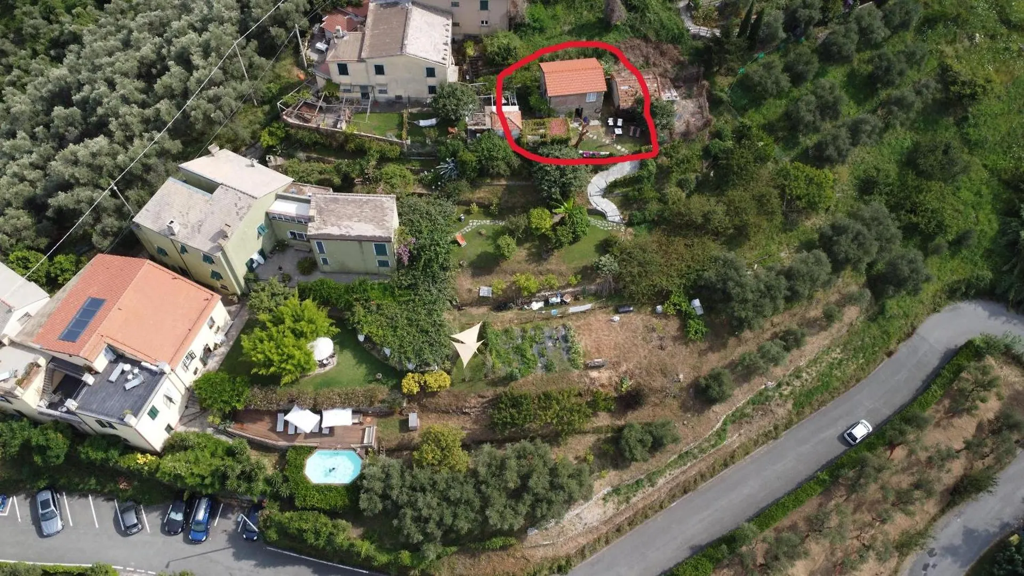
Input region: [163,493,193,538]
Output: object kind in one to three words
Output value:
car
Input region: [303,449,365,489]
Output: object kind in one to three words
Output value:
swimming pool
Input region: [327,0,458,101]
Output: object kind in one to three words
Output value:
house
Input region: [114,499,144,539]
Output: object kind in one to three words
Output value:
car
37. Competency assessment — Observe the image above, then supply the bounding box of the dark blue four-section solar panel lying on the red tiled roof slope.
[57,296,105,342]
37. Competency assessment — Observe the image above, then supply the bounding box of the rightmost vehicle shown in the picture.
[843,418,874,444]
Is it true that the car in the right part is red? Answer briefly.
No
